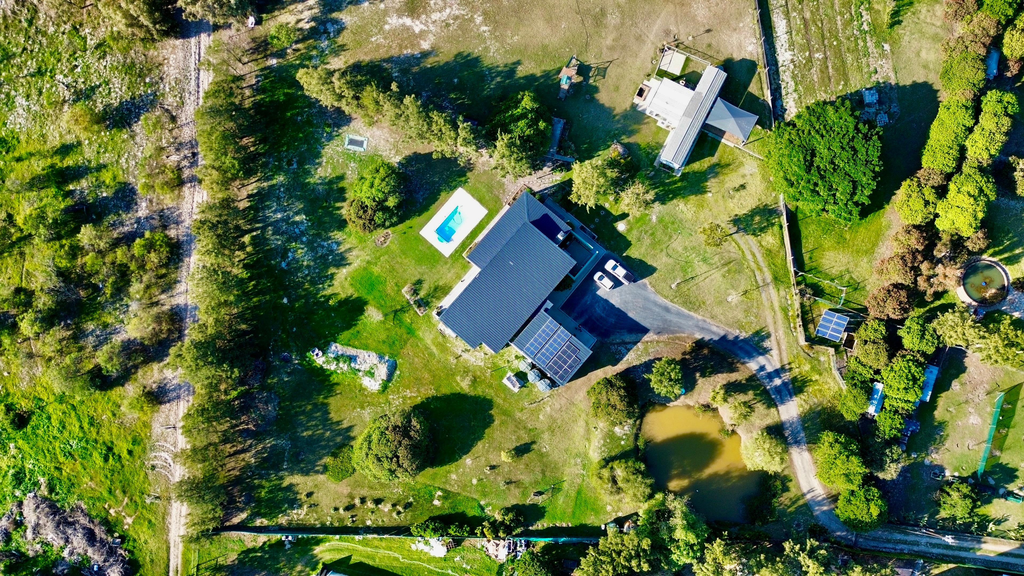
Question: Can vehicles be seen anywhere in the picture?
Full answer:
Yes, I can see a vehicle in this picture.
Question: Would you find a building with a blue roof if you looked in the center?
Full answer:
Yes, you'll find a building with a blue roof in the center.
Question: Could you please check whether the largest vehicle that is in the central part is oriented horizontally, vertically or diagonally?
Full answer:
What the image shows is the largest vehicle that is in the central part lying diagonally.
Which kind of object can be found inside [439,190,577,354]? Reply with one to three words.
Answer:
house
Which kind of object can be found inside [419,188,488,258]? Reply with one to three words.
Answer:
swimming pool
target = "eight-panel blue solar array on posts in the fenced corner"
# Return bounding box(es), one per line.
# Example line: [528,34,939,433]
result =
[815,310,849,341]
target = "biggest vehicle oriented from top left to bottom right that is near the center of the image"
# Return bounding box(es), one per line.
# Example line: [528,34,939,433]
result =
[605,258,635,289]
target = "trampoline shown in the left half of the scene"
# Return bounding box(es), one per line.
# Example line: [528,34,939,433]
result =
[345,134,368,151]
